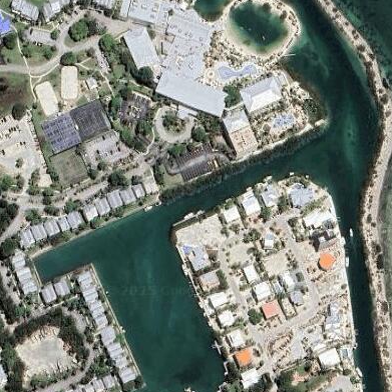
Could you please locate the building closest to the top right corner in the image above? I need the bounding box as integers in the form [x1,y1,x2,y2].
[239,75,283,109]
